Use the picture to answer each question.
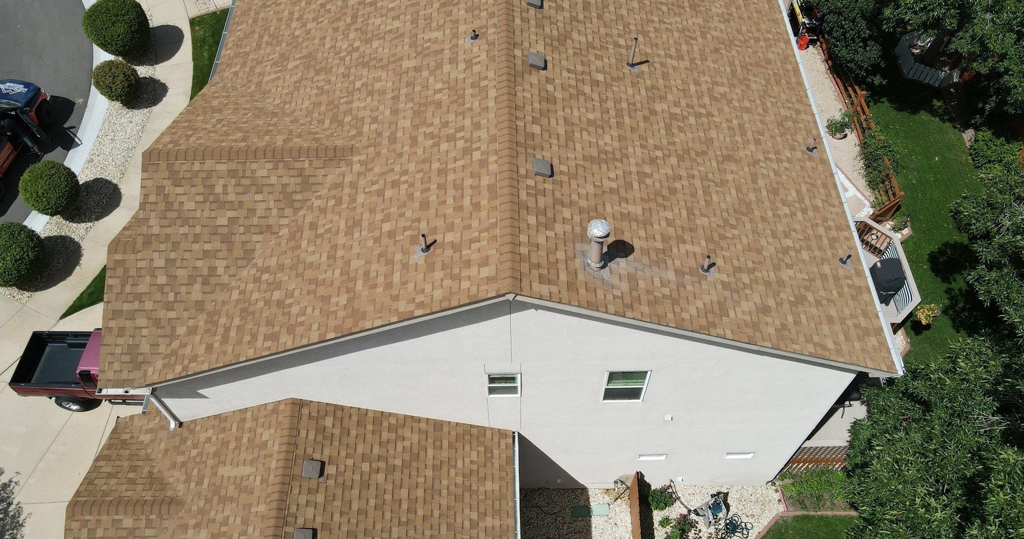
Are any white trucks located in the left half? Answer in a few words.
No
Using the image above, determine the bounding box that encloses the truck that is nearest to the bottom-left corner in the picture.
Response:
[10,325,154,406]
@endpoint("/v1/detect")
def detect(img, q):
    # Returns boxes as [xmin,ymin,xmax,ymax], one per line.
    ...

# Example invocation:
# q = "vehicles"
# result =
[0,89,57,183]
[10,325,154,406]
